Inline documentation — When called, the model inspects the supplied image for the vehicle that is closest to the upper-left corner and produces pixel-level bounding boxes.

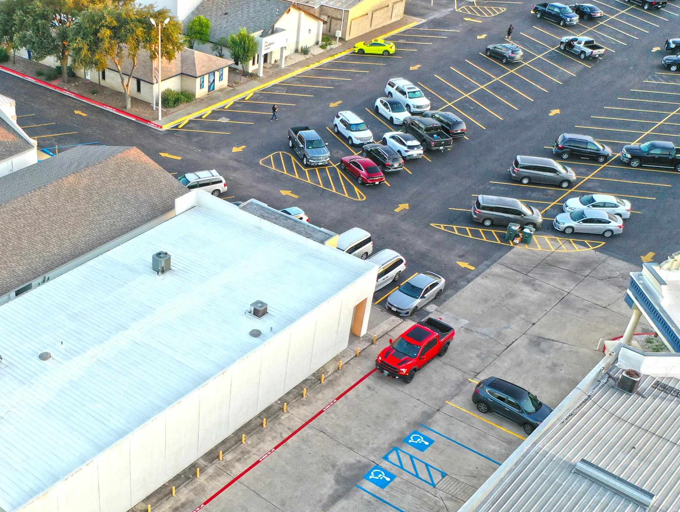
[181,169,233,198]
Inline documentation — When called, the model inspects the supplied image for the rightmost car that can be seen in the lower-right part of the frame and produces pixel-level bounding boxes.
[469,376,555,435]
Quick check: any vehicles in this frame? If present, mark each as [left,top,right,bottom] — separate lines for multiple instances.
[332,111,374,146]
[374,97,412,124]
[473,194,547,229]
[336,225,380,260]
[568,2,603,20]
[386,270,448,315]
[469,376,555,435]
[340,155,385,185]
[353,38,397,56]
[288,127,331,167]
[665,56,680,71]
[554,208,626,236]
[559,35,606,60]
[371,320,456,385]
[420,109,464,137]
[512,156,582,187]
[363,142,405,172]
[181,169,233,198]
[401,115,451,150]
[382,131,424,158]
[536,2,581,26]
[486,40,525,63]
[569,194,641,222]
[388,75,432,111]
[624,0,668,10]
[365,245,411,295]
[622,141,680,168]
[551,133,617,162]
